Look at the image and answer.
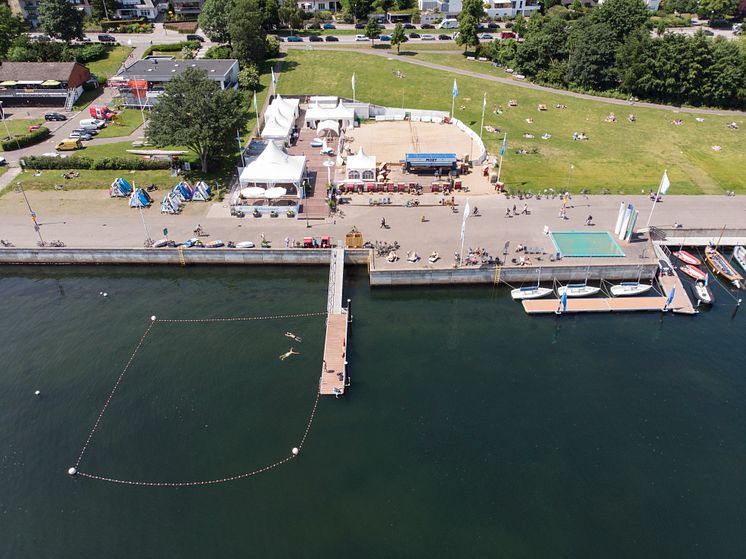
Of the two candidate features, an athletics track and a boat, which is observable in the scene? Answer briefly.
boat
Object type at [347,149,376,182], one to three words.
tent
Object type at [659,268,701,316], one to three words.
pier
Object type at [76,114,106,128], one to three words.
vehicle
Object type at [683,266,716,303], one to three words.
boat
